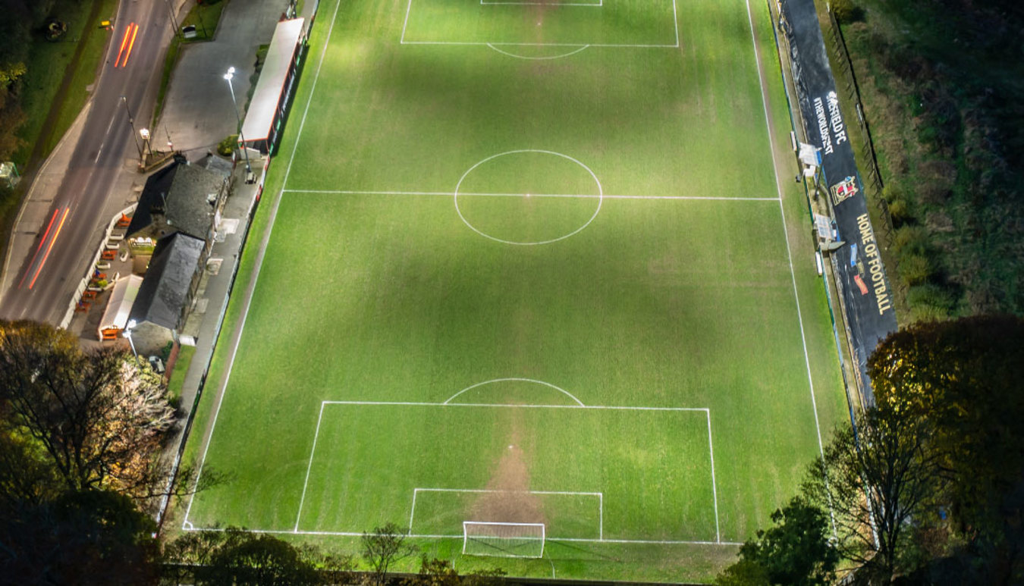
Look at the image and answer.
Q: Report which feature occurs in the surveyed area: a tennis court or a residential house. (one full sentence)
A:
It is a residential house that can be seen here.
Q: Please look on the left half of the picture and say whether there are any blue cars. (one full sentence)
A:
No, I see no blue car on the left half of the picture.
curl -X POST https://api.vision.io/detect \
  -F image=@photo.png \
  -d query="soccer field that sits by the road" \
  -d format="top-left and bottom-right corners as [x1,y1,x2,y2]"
[144,0,878,586]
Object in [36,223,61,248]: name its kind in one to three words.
car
